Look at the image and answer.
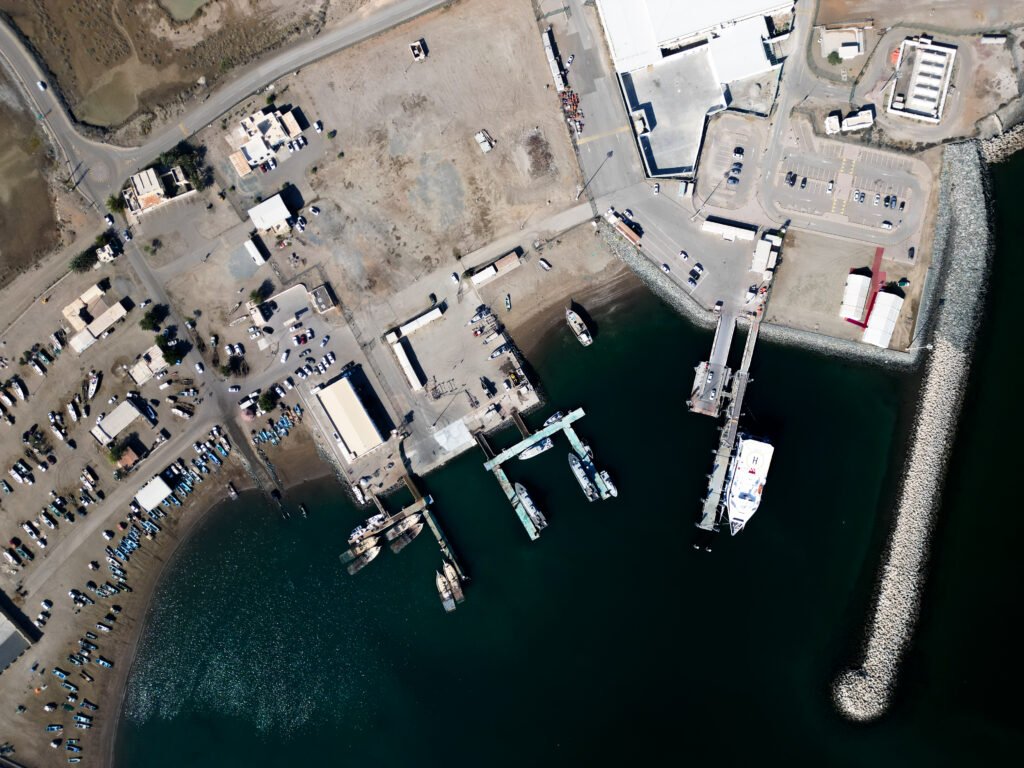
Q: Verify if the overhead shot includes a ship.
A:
Yes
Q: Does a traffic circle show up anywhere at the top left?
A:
Yes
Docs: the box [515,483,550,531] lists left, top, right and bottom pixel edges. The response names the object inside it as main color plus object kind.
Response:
gray boat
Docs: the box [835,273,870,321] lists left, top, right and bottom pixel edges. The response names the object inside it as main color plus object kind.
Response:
white tent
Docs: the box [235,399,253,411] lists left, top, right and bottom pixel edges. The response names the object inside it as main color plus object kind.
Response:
white vehicle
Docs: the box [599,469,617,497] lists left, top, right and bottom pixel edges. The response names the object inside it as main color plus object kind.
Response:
white boat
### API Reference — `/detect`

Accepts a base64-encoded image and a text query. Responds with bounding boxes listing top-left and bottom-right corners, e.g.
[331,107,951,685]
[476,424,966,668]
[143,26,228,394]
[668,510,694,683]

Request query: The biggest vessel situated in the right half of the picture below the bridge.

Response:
[722,432,774,536]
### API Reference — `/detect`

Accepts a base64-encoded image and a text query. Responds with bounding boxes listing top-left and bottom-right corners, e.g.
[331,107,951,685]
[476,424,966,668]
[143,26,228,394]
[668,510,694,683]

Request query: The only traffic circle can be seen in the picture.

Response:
[70,143,136,197]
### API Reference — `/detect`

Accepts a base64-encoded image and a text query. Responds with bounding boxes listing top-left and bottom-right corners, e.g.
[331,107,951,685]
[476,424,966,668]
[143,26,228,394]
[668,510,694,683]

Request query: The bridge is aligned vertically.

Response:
[709,314,736,366]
